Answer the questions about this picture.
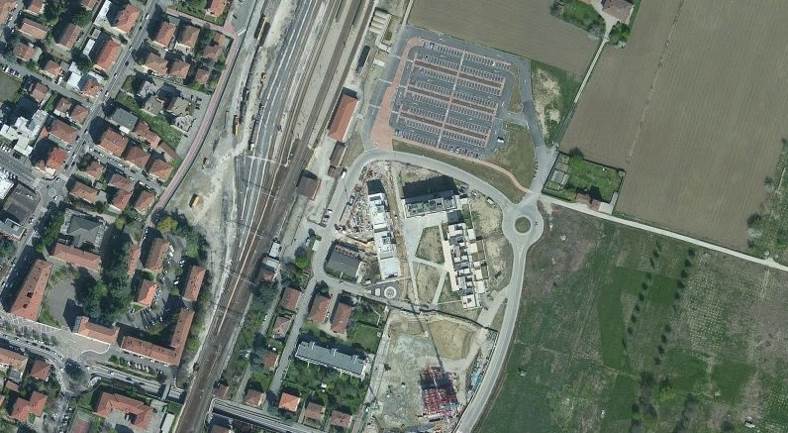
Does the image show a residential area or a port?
residential area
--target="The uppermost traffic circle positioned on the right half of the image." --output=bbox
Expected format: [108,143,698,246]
[503,205,542,244]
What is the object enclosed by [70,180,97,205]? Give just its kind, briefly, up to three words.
house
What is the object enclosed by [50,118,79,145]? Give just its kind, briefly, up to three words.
house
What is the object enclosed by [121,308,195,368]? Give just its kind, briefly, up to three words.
building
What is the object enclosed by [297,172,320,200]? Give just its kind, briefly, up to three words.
shed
